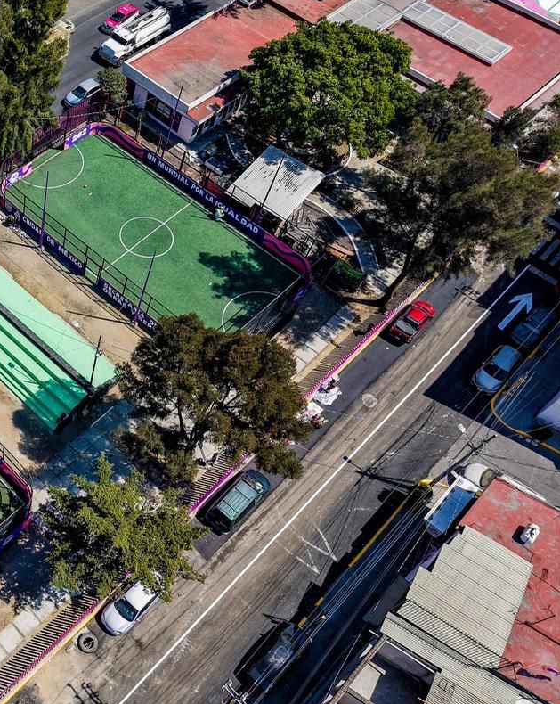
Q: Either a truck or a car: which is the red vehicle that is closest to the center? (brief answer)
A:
car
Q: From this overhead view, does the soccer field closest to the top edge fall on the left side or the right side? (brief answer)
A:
left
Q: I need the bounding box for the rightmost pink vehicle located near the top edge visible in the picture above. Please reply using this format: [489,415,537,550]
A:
[98,4,141,33]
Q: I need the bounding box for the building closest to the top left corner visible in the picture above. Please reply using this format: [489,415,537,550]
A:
[120,0,305,153]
